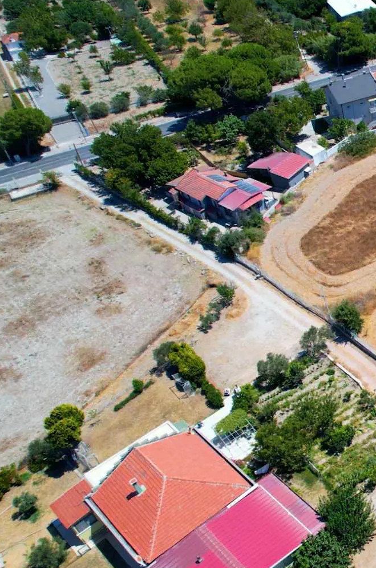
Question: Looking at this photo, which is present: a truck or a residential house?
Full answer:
It is a residential house that can be seen here.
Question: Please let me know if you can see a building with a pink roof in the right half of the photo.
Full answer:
Yes, in the right half of the photo there is a building with a pink roof.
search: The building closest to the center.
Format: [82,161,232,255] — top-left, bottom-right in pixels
[171,166,272,227]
